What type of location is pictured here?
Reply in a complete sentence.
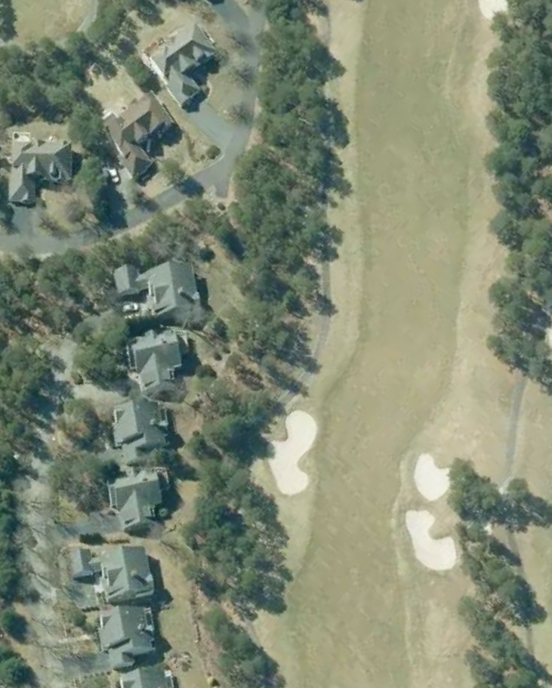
It's a golf course.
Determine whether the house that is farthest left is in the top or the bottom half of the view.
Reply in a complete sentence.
The house that is farthest left is in the top half of the image.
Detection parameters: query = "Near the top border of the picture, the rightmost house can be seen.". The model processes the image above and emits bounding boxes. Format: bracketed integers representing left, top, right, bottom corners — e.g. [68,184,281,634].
[150,24,215,111]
